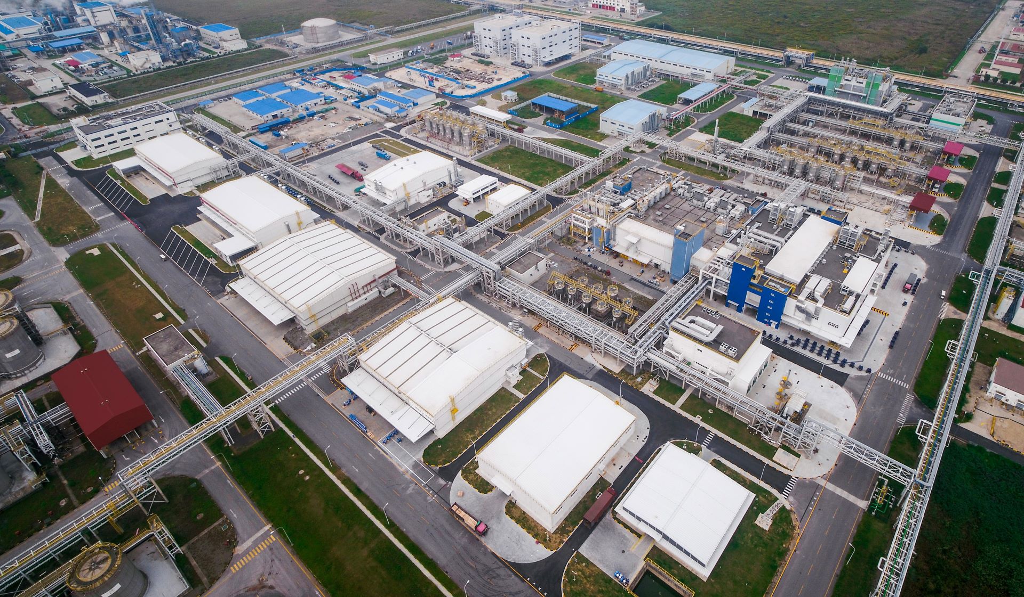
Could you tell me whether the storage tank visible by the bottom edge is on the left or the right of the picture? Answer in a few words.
left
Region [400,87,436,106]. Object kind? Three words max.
shed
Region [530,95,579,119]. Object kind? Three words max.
shed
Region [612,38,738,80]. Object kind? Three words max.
building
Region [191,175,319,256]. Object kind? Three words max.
building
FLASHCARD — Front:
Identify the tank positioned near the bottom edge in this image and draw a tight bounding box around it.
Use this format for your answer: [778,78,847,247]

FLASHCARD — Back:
[63,541,146,597]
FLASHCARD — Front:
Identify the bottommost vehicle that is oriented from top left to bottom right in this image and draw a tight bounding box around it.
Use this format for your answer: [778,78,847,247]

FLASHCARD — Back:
[447,497,489,532]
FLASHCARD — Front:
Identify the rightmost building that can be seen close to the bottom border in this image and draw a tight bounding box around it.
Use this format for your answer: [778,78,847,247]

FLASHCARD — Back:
[612,438,755,576]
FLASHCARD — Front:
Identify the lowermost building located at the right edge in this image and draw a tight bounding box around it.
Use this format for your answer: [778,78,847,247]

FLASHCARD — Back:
[987,356,1024,409]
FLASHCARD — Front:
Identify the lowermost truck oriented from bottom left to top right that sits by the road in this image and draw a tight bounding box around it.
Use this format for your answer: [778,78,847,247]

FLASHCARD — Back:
[582,482,620,531]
